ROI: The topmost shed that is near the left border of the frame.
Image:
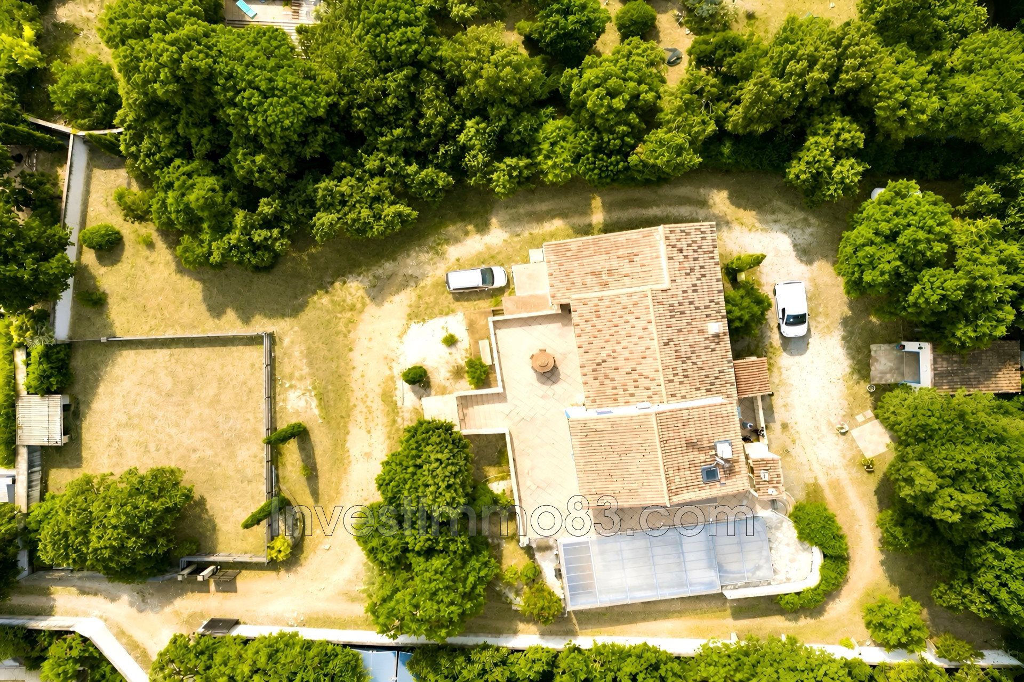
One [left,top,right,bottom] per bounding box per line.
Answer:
[15,394,83,446]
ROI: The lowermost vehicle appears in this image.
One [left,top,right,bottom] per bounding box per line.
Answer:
[779,281,813,338]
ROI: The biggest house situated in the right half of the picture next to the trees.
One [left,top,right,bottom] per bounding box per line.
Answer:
[542,222,751,509]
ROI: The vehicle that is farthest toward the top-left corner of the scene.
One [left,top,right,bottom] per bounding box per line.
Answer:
[445,262,508,294]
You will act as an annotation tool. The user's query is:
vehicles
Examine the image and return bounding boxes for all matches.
[779,281,813,338]
[445,262,508,294]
